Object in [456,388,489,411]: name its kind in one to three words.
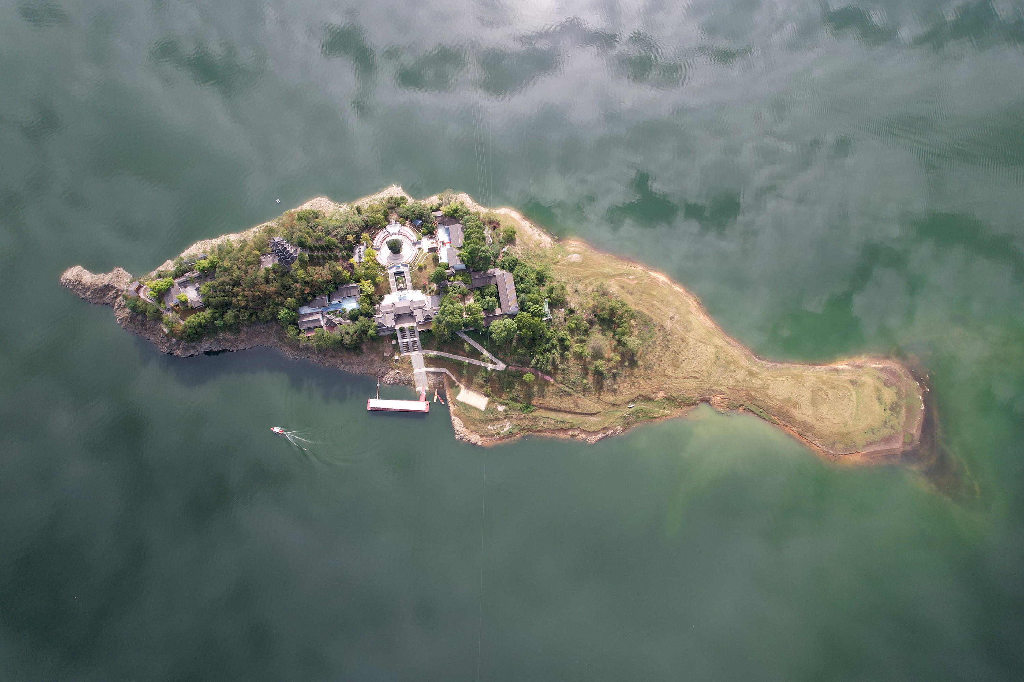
sports court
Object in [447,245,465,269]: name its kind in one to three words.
building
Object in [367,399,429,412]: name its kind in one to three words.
pier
